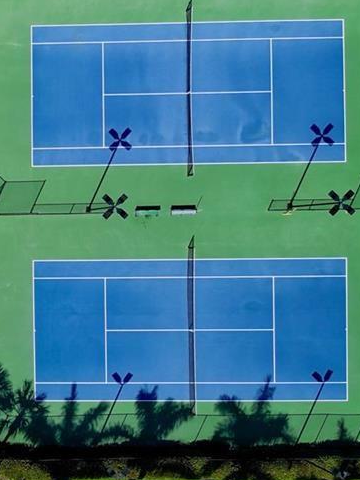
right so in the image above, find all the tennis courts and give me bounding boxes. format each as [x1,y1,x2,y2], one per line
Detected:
[33,257,348,401]
[31,19,346,167]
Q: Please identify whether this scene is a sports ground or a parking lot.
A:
sports ground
